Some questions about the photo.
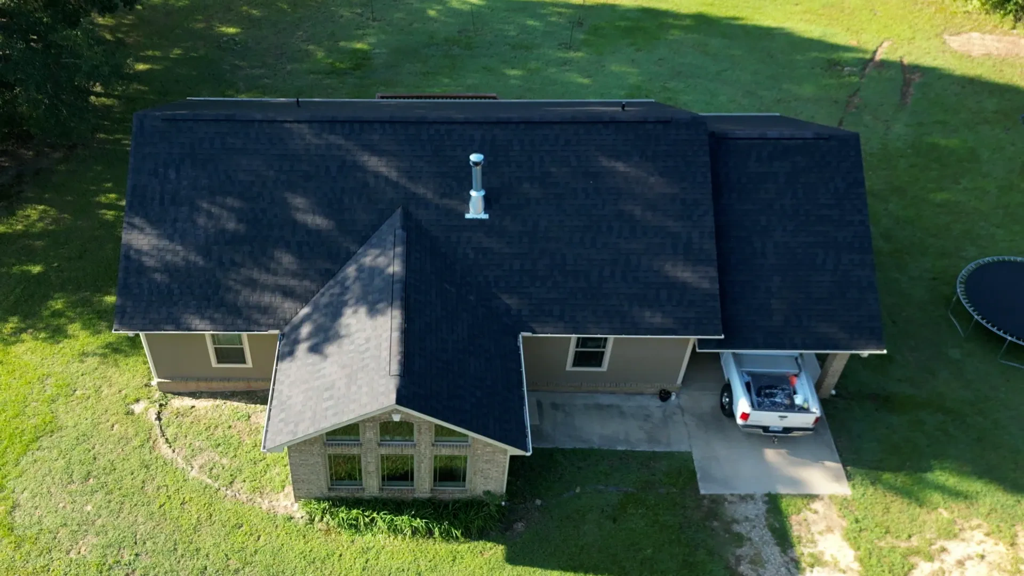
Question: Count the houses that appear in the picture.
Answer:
one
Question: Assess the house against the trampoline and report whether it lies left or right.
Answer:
to the left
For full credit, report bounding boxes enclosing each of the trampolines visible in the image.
[944,255,1024,373]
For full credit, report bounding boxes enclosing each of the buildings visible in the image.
[112,96,888,502]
